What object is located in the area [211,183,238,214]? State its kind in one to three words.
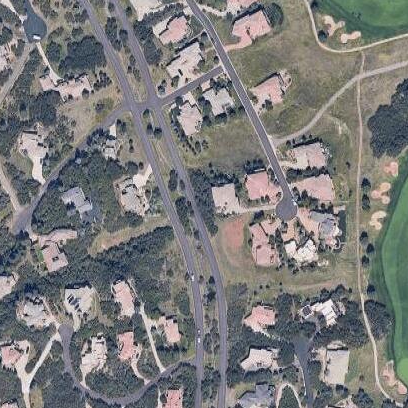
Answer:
house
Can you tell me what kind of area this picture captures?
residential area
